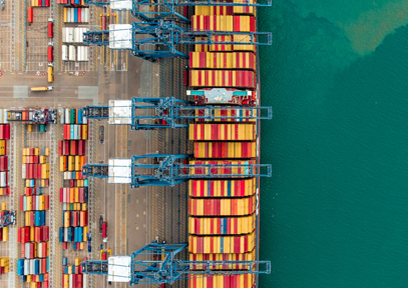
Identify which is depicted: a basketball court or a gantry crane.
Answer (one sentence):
Of the two, only a gantry crane appears.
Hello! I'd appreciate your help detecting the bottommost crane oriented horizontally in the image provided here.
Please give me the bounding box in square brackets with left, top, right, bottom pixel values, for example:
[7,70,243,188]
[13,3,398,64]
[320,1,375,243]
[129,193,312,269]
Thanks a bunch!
[79,232,271,286]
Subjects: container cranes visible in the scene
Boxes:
[79,232,271,286]
[79,95,271,136]
[79,0,271,31]
[79,20,271,71]
[4,107,54,127]
[79,147,271,189]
